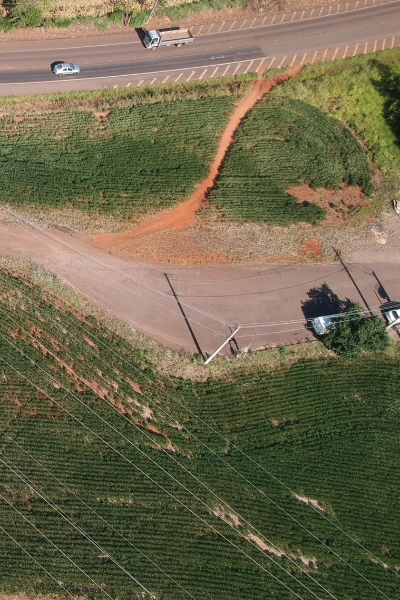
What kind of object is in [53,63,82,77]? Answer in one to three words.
car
